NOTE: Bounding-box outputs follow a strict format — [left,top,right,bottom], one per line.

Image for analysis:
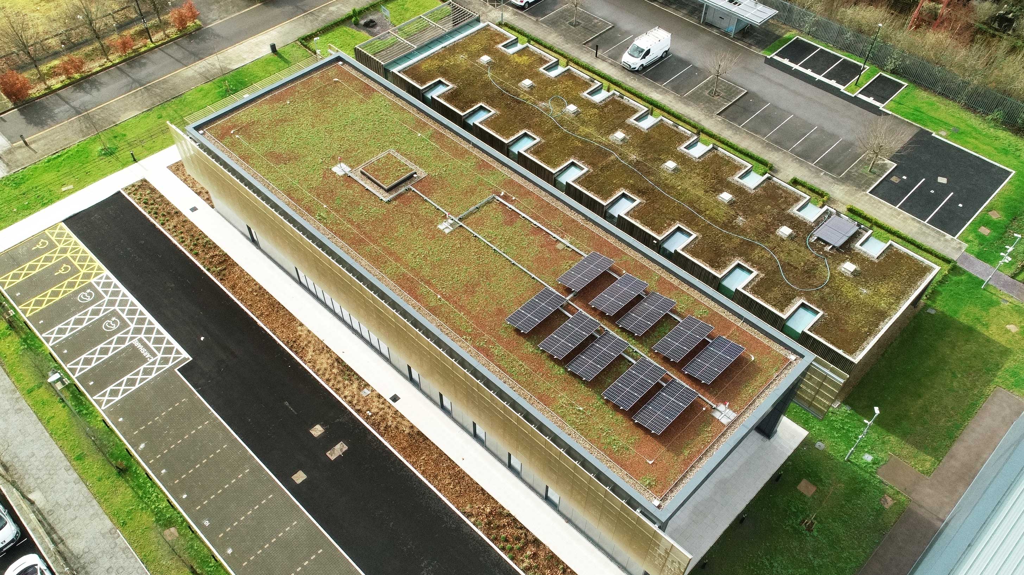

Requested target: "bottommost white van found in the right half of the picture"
[622,24,672,70]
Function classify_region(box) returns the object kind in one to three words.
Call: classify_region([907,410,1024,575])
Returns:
building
